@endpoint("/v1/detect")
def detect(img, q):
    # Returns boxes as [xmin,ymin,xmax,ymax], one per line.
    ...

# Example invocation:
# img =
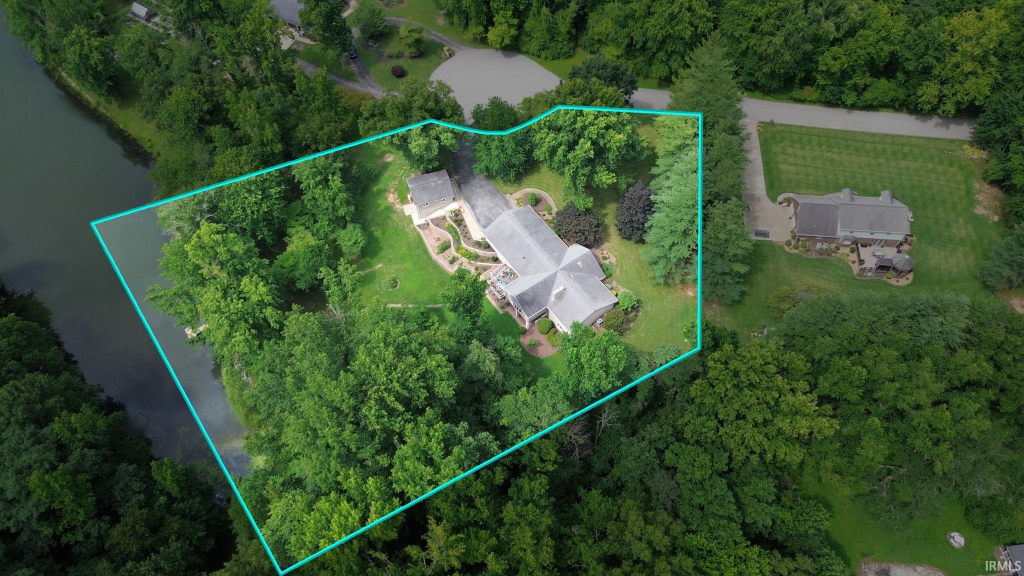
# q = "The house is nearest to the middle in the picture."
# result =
[482,205,617,339]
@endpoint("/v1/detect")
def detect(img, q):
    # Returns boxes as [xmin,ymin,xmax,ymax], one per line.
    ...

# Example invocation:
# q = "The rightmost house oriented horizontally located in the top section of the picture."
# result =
[787,188,920,249]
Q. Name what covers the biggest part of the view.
trees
